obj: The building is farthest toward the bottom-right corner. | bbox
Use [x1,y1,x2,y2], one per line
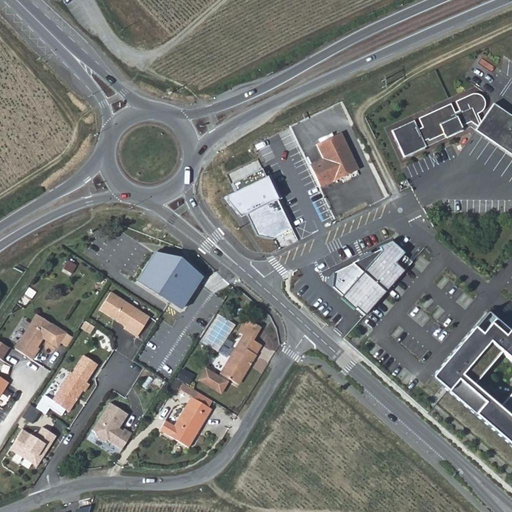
[436,312,512,446]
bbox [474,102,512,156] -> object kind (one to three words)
building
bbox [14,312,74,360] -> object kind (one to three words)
house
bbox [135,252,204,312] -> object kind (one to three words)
building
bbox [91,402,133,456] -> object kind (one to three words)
house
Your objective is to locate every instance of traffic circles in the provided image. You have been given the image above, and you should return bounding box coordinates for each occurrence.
[96,97,200,210]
